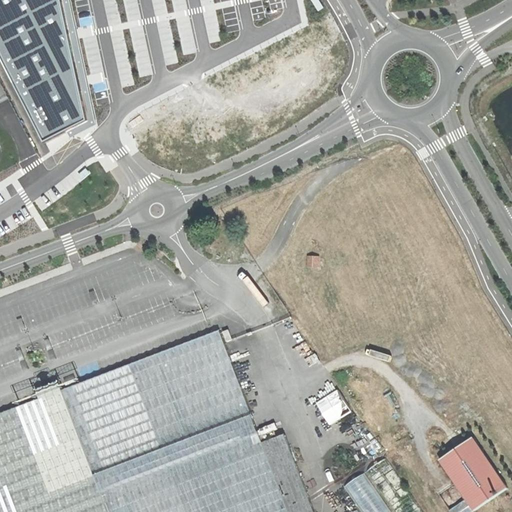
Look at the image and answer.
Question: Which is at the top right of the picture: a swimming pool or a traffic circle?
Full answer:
Looking at the top right of the picture, you will find a traffic circle.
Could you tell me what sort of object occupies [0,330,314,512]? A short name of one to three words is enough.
building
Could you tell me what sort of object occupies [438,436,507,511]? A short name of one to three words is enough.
house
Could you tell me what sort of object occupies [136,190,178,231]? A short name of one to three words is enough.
roundabout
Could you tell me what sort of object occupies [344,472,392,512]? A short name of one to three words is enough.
greenhouse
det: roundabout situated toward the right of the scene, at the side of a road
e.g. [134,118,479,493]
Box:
[362,28,460,127]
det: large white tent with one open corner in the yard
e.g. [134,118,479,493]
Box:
[316,390,351,425]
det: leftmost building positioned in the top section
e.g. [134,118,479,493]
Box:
[0,0,84,138]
